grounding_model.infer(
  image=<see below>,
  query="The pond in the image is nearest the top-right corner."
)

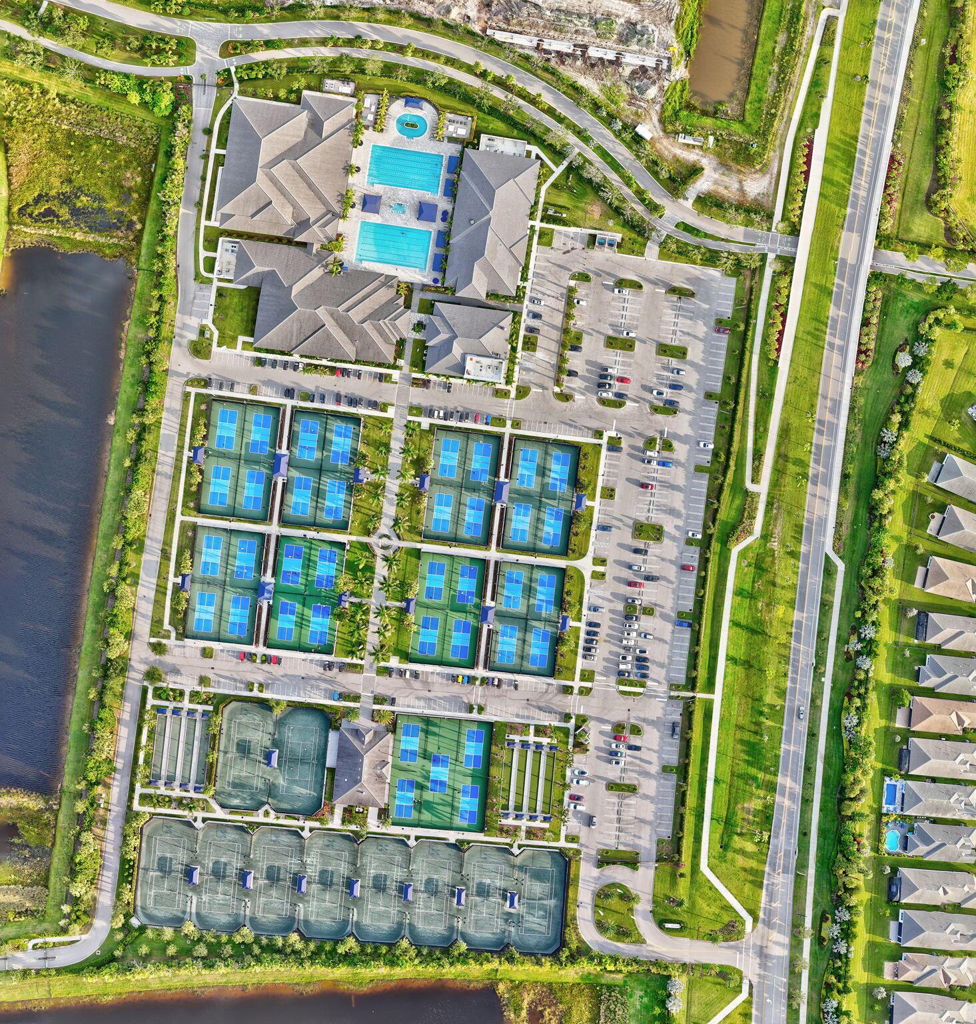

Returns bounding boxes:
[690,0,748,100]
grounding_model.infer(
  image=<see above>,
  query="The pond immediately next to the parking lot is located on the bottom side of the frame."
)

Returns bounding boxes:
[0,984,500,1024]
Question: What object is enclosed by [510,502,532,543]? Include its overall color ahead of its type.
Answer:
blue sports court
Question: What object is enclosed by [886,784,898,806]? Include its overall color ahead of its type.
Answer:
blue swimming pool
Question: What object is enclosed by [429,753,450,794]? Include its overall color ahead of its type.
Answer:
blue sports court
